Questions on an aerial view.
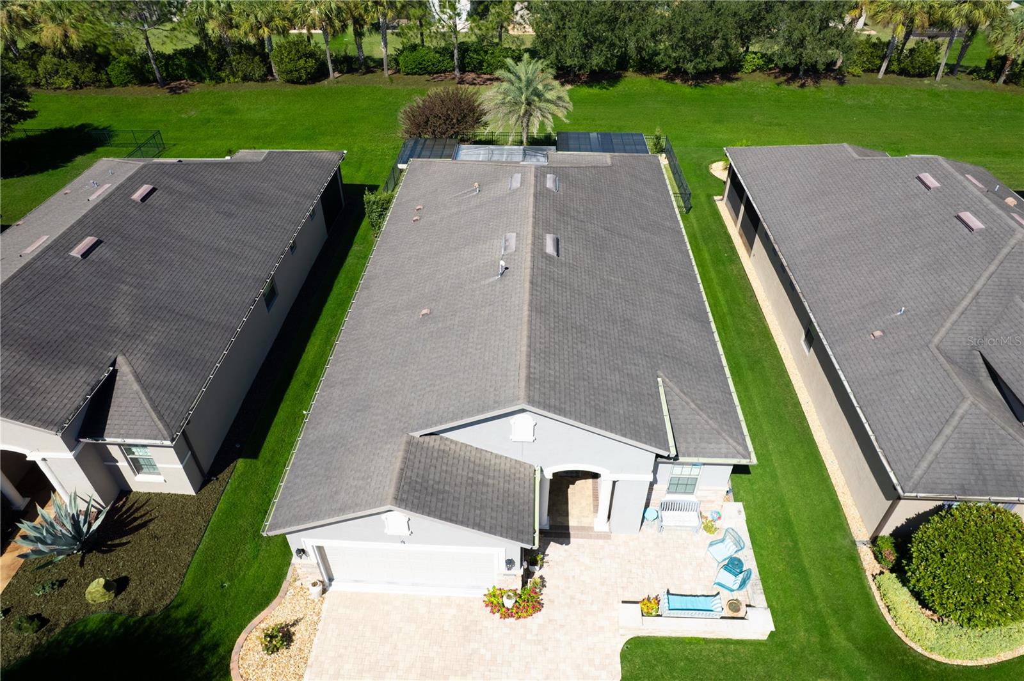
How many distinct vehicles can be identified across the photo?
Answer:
none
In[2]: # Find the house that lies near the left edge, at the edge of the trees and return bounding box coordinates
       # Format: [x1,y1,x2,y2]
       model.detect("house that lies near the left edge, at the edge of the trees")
[0,149,338,516]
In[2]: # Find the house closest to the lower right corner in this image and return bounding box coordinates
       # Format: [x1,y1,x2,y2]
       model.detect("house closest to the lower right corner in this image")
[727,145,1024,539]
